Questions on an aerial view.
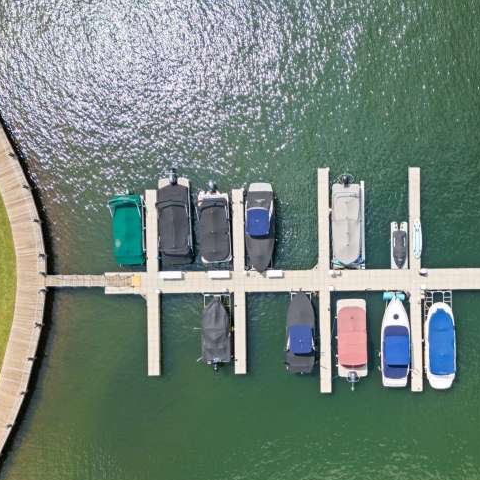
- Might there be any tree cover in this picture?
No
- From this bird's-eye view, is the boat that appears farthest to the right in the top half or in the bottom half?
bottom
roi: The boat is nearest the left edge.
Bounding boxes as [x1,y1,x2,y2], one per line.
[106,188,147,267]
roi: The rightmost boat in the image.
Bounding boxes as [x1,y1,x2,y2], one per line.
[423,302,457,390]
